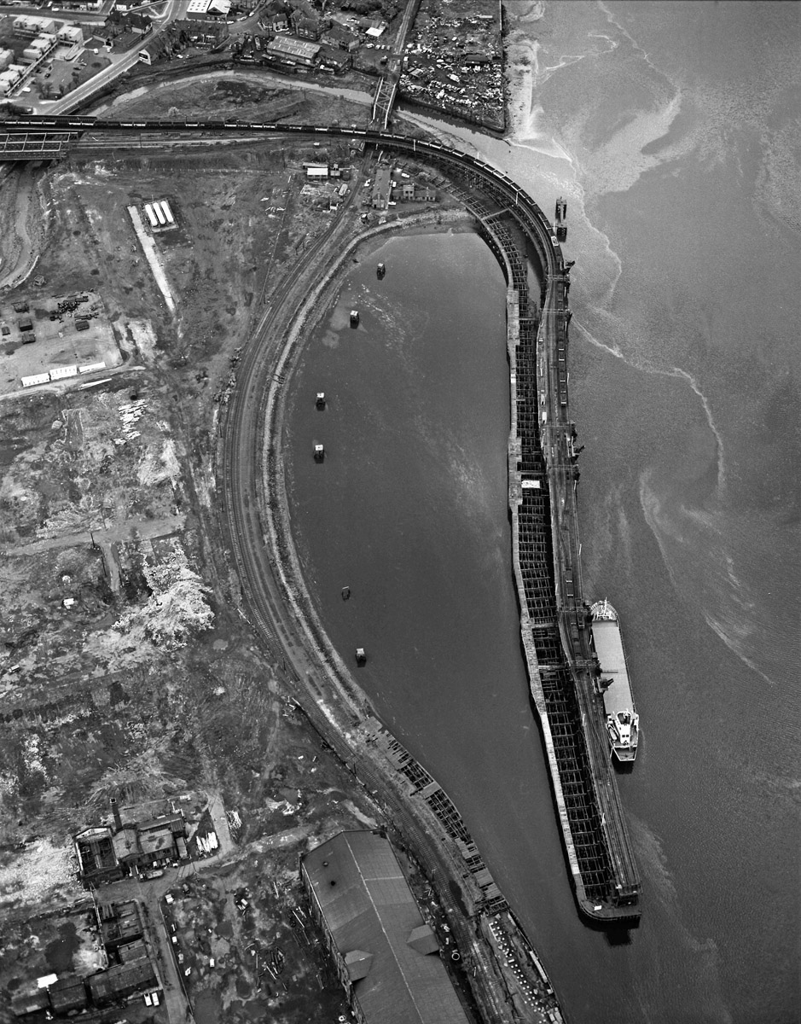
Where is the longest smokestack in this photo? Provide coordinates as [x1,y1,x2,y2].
[109,797,125,830]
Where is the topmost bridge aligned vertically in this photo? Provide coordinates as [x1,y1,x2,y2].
[373,78,397,129]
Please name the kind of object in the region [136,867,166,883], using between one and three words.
vehicle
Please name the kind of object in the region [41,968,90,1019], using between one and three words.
shed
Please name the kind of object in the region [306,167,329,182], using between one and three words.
building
